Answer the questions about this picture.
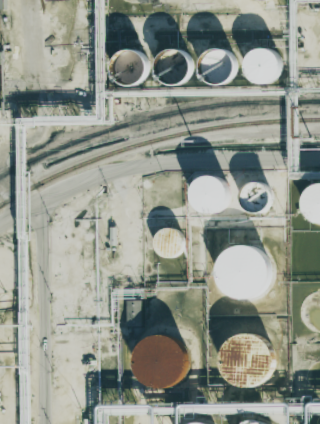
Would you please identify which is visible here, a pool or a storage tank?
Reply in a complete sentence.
The image shows a storage tank.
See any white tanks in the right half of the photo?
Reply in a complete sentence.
Yes, the scene does show a white tank in the right half of the photo.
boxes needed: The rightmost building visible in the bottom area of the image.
[126,301,144,322]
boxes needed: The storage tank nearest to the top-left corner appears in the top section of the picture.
[108,48,152,89]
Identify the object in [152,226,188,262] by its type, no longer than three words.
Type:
storage tank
